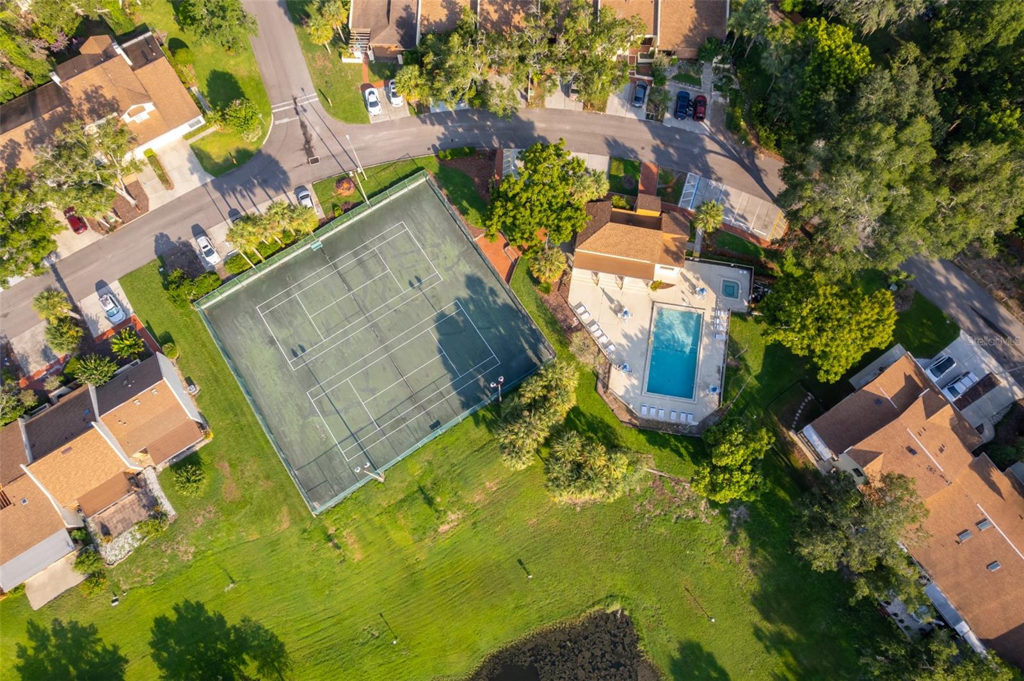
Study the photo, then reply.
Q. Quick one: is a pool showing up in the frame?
Yes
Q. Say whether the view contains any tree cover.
Yes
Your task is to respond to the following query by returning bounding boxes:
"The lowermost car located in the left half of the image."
[95,291,124,323]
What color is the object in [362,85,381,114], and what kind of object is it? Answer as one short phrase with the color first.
white car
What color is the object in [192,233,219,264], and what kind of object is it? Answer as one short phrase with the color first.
white car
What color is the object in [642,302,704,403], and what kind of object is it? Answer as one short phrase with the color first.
blue swimming pool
